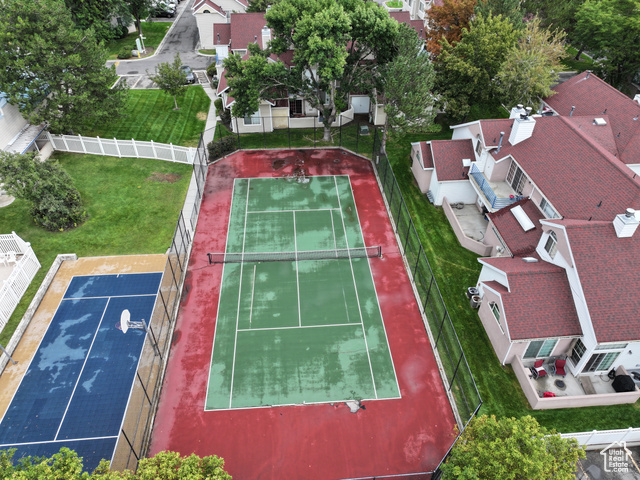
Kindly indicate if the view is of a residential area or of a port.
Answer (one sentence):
The picture captures a residential area.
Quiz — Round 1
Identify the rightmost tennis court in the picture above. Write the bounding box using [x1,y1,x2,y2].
[141,145,463,480]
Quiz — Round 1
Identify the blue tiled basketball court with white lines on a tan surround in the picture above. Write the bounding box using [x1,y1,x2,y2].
[0,250,186,480]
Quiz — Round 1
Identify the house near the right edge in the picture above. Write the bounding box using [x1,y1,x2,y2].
[411,69,640,375]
